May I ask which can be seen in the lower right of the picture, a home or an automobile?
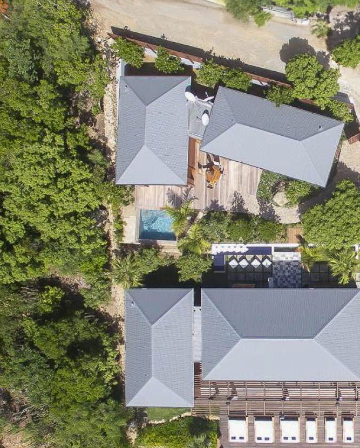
home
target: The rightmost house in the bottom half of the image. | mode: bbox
[201,287,360,381]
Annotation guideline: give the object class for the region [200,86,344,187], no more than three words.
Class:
house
